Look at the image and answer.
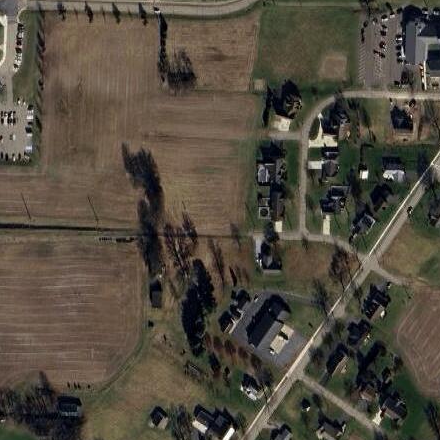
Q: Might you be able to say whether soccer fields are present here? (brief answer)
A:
No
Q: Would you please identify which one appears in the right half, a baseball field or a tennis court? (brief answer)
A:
baseball field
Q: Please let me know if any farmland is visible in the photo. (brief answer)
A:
Yes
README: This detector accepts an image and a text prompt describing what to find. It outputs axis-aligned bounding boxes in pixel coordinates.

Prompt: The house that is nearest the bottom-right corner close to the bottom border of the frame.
[381,392,403,419]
